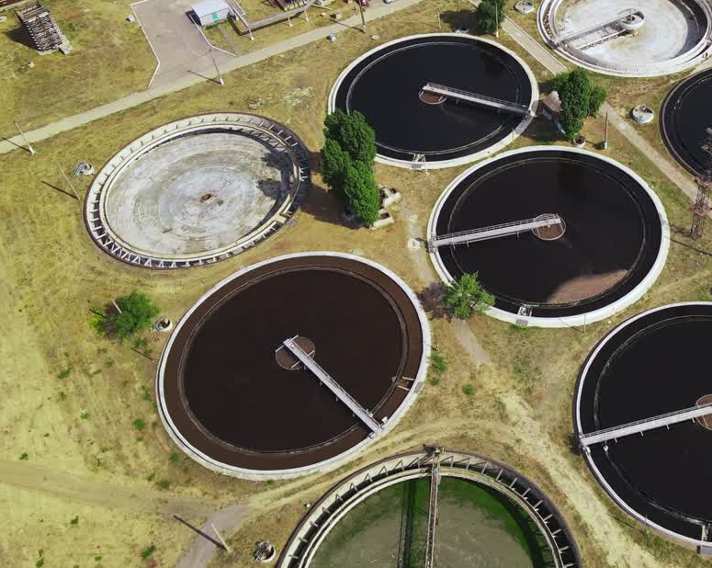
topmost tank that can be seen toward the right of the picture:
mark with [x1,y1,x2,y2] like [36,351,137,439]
[537,0,712,81]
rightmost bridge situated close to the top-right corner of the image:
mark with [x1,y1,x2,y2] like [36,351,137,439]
[555,7,639,53]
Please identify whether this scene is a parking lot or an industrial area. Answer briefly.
industrial area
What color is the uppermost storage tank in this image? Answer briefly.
white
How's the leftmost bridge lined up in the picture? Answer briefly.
on a diagonal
